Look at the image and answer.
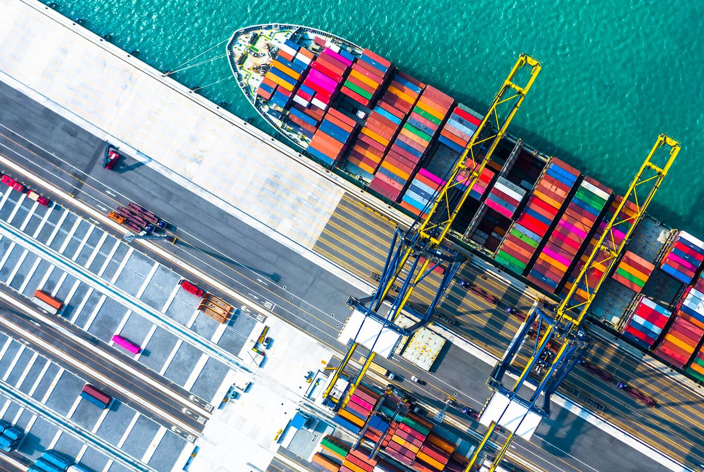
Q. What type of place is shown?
port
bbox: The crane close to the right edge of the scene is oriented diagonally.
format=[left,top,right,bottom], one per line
[463,133,682,472]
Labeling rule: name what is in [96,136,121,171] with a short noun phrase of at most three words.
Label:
work vehicle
